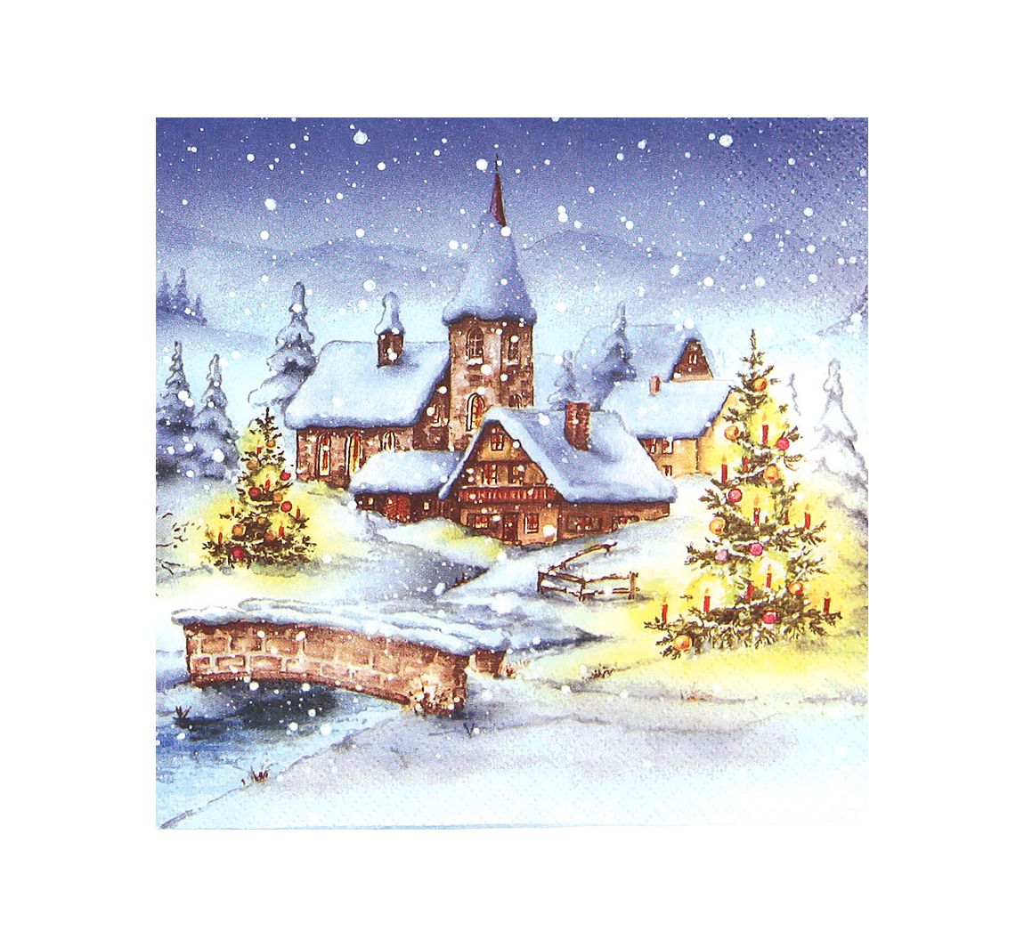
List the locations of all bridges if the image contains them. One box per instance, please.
[171,599,511,718]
